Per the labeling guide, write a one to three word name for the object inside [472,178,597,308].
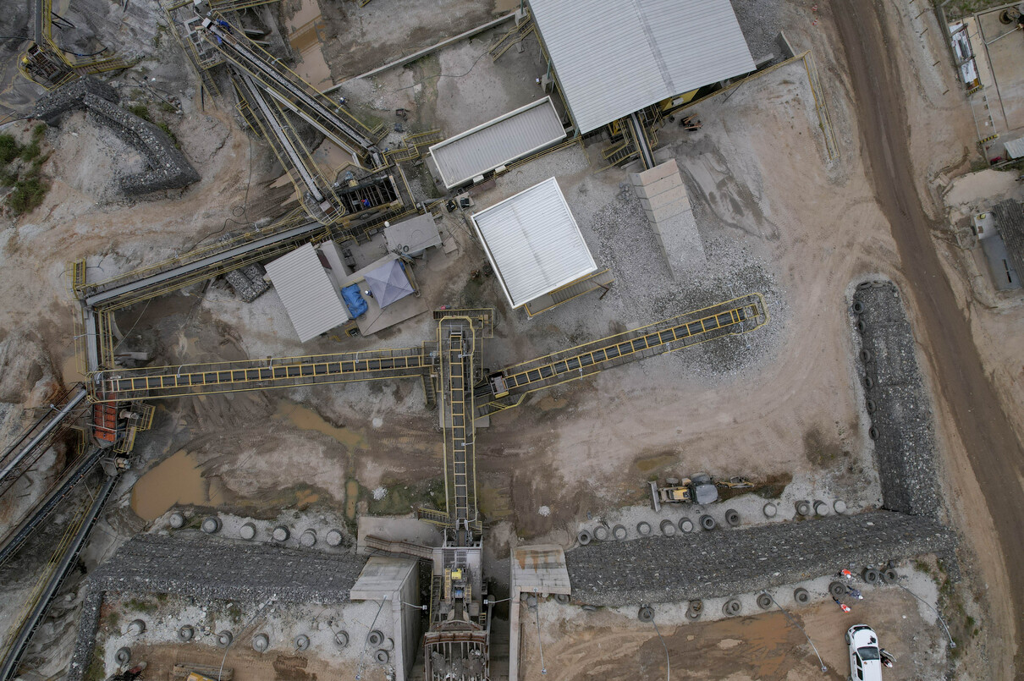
building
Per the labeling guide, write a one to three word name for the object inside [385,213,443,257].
shed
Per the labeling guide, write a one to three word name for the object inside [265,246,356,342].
shed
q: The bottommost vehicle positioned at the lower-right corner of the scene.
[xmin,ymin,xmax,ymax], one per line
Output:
[844,624,894,681]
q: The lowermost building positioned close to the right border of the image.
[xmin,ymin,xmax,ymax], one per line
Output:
[970,198,1024,293]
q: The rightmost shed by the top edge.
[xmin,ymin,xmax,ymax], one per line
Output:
[504,0,756,175]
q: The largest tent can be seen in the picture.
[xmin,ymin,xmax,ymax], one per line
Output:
[363,260,419,310]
